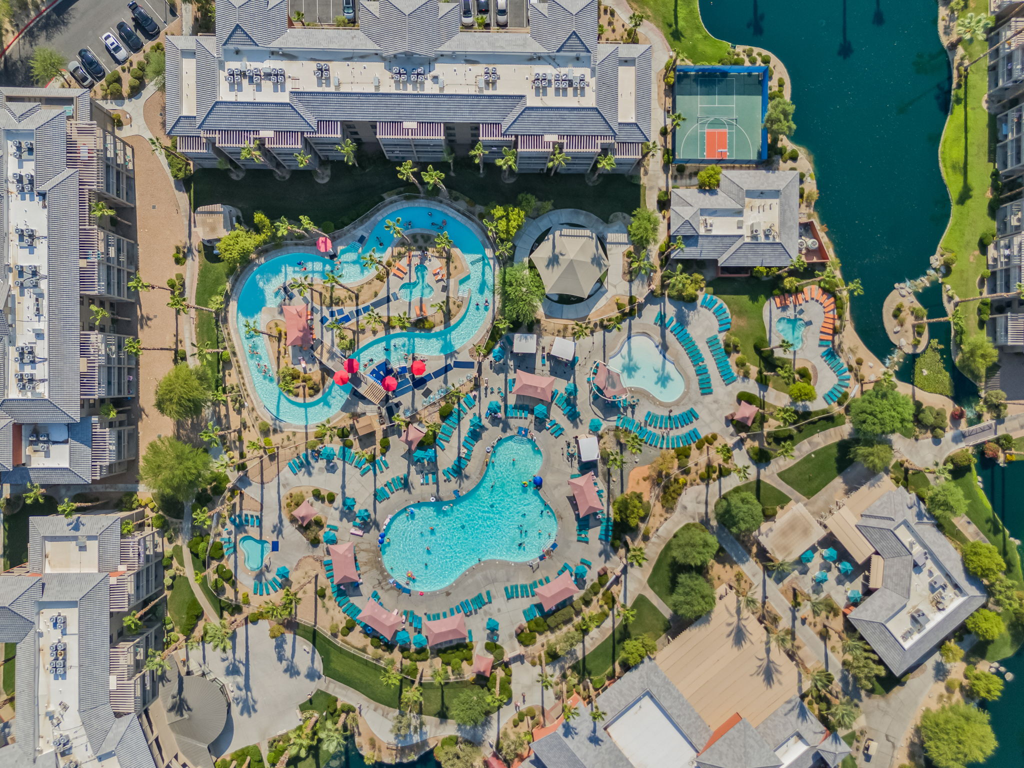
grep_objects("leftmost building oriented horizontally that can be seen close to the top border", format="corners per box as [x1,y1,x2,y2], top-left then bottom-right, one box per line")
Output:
[164,0,652,175]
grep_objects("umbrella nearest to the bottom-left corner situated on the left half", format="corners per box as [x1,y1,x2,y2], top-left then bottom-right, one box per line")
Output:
[276,562,292,579]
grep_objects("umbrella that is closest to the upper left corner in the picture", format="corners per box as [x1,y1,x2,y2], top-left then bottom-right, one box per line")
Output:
[317,238,333,253]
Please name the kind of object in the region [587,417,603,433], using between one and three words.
umbrella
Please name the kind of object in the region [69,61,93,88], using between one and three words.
car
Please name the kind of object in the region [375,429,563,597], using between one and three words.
swimming pool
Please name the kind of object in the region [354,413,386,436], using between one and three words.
shed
